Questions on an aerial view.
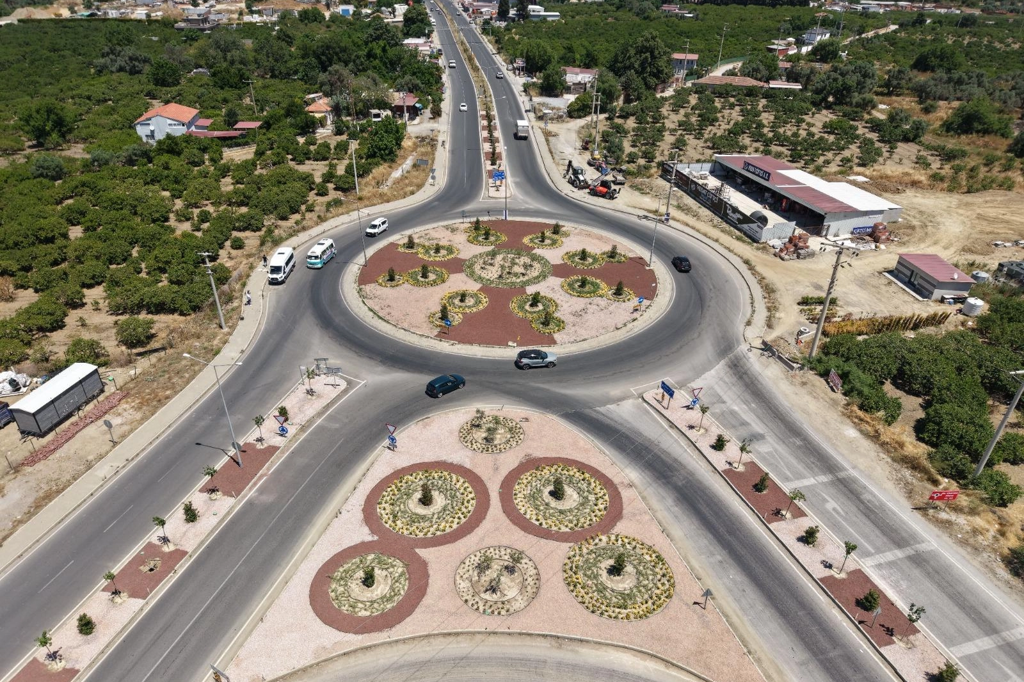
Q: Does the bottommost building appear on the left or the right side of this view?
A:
right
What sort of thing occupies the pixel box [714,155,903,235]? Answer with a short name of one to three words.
building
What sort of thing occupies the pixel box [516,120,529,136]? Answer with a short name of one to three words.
vehicle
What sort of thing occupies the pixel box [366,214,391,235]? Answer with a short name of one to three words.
vehicle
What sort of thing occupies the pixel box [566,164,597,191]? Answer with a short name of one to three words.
work vehicle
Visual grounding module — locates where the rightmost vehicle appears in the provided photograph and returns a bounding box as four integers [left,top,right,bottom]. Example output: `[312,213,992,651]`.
[668,254,696,272]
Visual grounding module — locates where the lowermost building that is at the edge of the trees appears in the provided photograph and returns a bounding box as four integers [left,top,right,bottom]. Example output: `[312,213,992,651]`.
[877,250,983,302]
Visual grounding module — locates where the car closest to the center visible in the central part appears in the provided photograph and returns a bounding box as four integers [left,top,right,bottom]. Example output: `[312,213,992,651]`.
[514,347,560,370]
